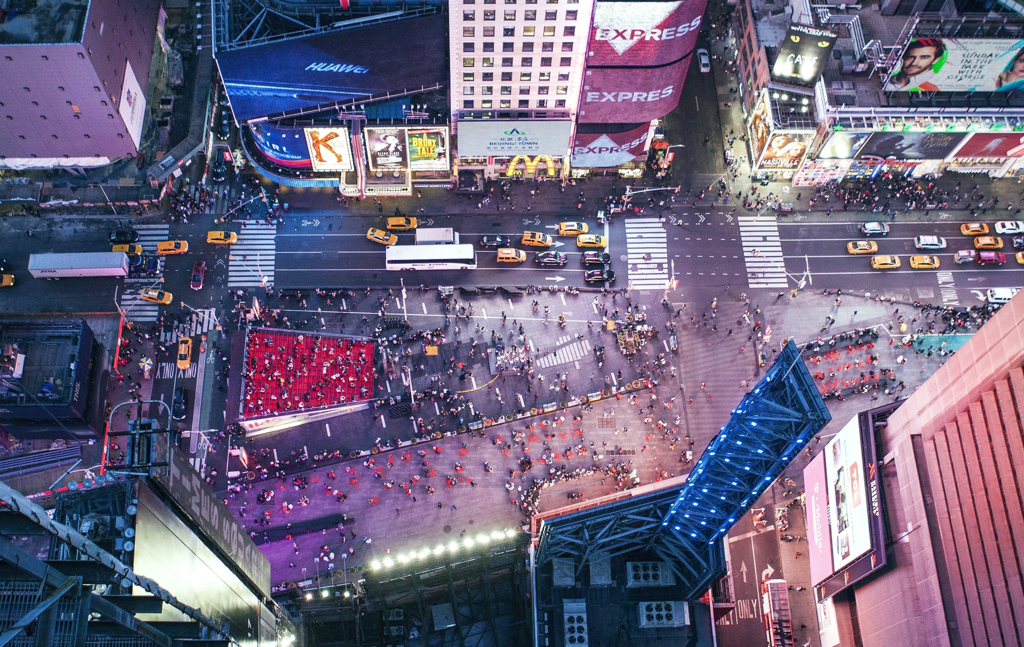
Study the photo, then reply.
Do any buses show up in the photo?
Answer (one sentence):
Yes, you can see a bus in this photo.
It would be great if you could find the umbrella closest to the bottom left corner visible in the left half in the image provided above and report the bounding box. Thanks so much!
[135,354,157,373]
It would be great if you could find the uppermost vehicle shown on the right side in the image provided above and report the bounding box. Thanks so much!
[697,50,711,70]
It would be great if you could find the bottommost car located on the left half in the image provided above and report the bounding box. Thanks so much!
[169,387,190,420]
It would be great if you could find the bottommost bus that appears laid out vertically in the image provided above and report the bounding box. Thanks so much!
[757,580,791,647]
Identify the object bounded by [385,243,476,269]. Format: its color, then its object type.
white bus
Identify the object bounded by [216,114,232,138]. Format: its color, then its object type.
black car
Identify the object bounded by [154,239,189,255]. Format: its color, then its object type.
orange car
